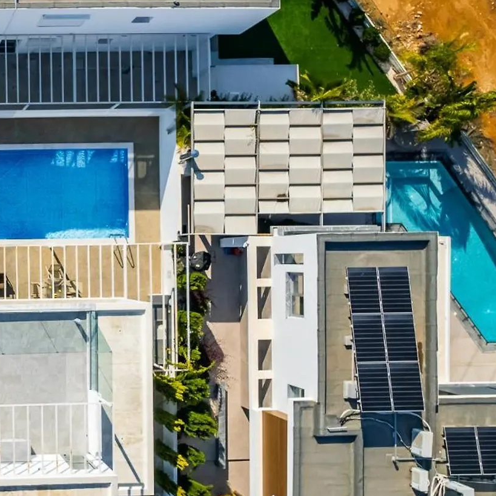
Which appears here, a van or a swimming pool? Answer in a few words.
swimming pool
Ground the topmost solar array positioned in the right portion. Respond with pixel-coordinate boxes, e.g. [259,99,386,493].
[343,267,423,411]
